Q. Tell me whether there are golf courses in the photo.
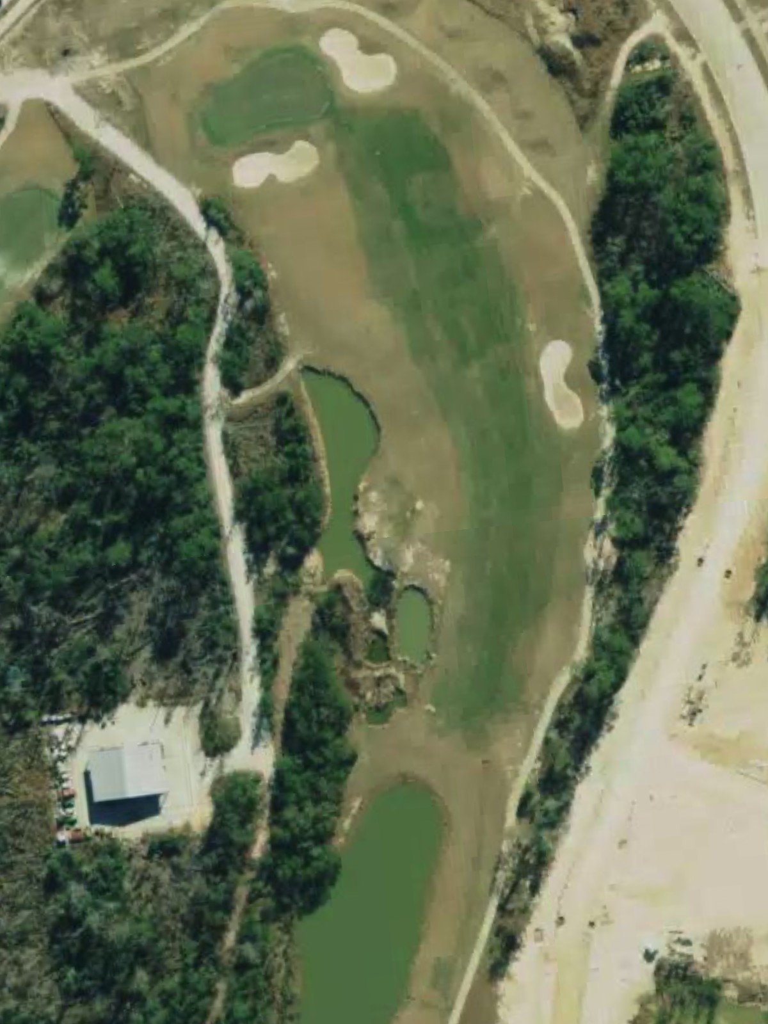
Yes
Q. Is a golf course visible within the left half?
Yes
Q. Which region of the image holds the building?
bottom left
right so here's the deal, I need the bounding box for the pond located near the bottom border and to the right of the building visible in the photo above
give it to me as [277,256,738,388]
[294,780,446,1024]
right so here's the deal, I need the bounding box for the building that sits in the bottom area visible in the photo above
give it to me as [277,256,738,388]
[87,742,170,805]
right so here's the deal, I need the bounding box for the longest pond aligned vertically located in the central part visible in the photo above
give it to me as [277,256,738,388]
[303,367,391,607]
